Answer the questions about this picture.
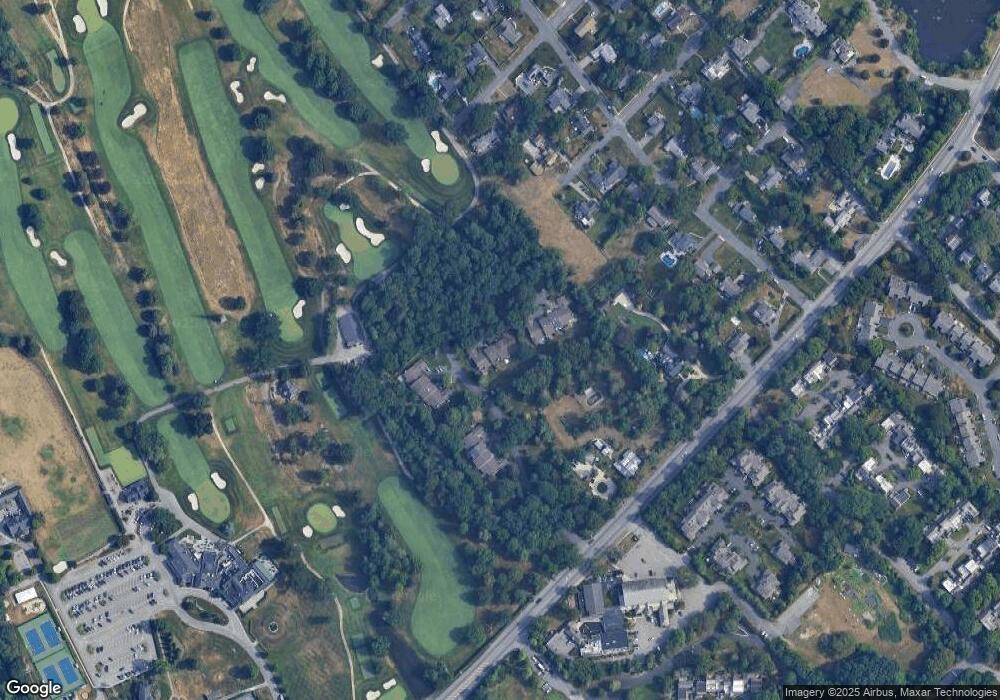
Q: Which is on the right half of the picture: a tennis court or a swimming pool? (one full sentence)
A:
The one visible on the right half of the picture is a swimming pool.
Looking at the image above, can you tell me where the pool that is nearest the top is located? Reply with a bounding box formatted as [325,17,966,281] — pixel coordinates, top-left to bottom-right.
[796,40,813,57]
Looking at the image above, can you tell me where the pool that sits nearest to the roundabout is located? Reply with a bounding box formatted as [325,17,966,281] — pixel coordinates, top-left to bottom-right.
[880,154,900,180]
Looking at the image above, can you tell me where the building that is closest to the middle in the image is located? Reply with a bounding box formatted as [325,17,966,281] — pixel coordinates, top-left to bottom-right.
[466,330,520,376]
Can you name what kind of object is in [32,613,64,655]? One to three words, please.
tennis court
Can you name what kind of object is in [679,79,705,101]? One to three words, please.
house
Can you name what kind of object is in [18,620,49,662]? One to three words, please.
tennis court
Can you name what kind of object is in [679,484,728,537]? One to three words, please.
building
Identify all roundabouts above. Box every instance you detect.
[888,312,924,348]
